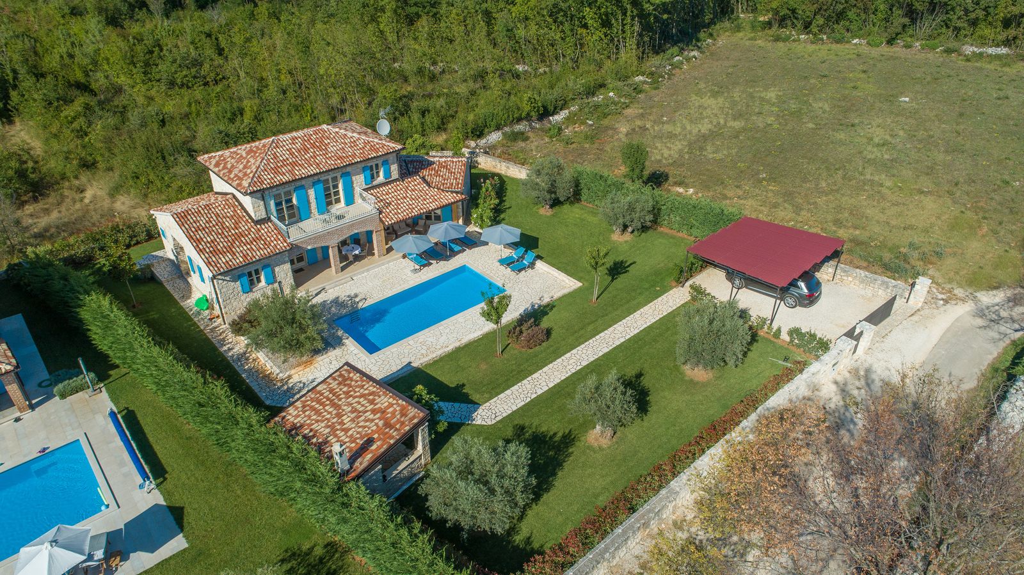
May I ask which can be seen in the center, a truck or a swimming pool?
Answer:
swimming pool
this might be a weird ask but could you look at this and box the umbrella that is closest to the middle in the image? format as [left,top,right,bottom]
[480,220,523,258]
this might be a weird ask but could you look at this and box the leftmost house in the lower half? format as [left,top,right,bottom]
[0,329,34,412]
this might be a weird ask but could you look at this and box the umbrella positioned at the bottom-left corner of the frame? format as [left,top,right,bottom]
[21,532,94,575]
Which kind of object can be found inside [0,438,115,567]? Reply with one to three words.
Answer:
swimming pool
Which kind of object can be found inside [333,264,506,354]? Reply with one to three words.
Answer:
swimming pool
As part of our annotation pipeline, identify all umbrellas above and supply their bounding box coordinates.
[389,231,435,274]
[480,220,523,258]
[21,532,94,575]
[424,217,469,257]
